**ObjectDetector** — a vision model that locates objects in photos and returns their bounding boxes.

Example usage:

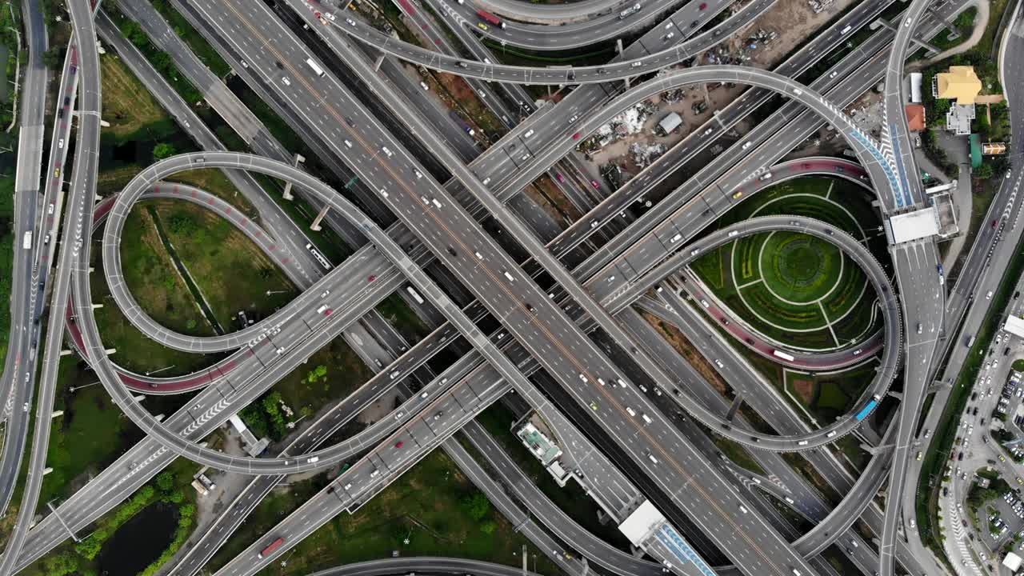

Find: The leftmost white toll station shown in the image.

[612,491,670,548]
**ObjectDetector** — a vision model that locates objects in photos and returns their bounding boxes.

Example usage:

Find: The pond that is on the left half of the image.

[98,503,180,576]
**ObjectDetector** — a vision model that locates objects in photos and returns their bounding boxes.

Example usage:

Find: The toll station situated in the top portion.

[885,200,940,253]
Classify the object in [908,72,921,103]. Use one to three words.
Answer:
shed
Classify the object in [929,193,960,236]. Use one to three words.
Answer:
building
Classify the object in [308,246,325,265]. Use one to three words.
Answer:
vehicle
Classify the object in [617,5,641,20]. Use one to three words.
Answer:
vehicle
